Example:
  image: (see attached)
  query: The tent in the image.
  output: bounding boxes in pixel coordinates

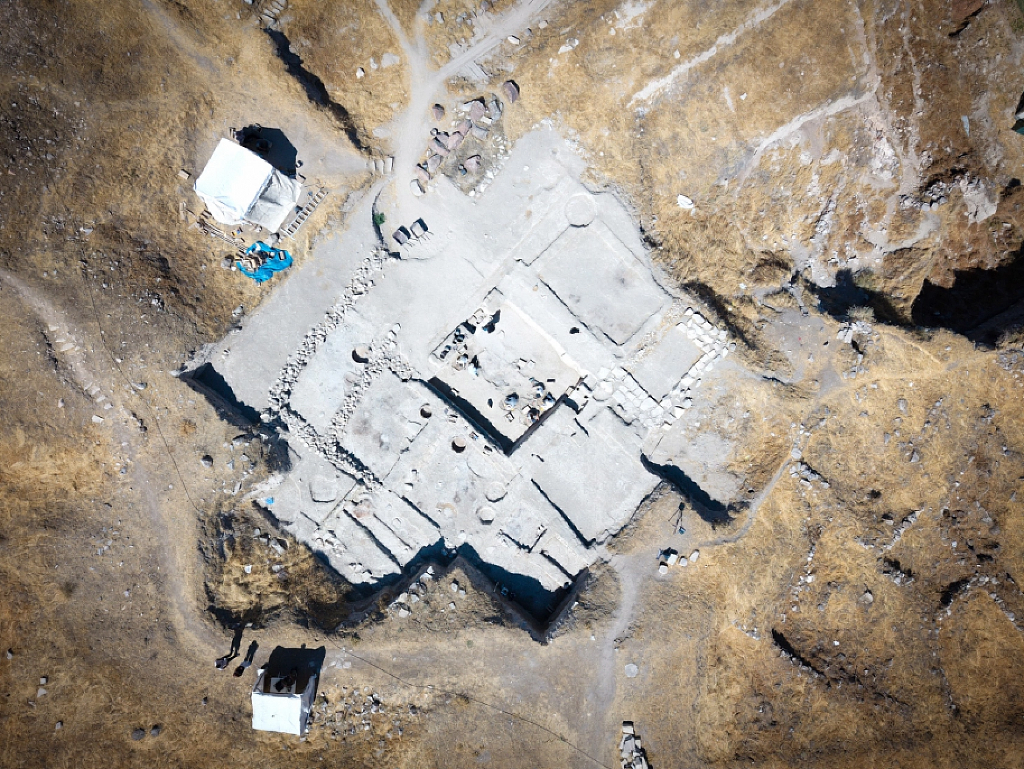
[195,138,307,235]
